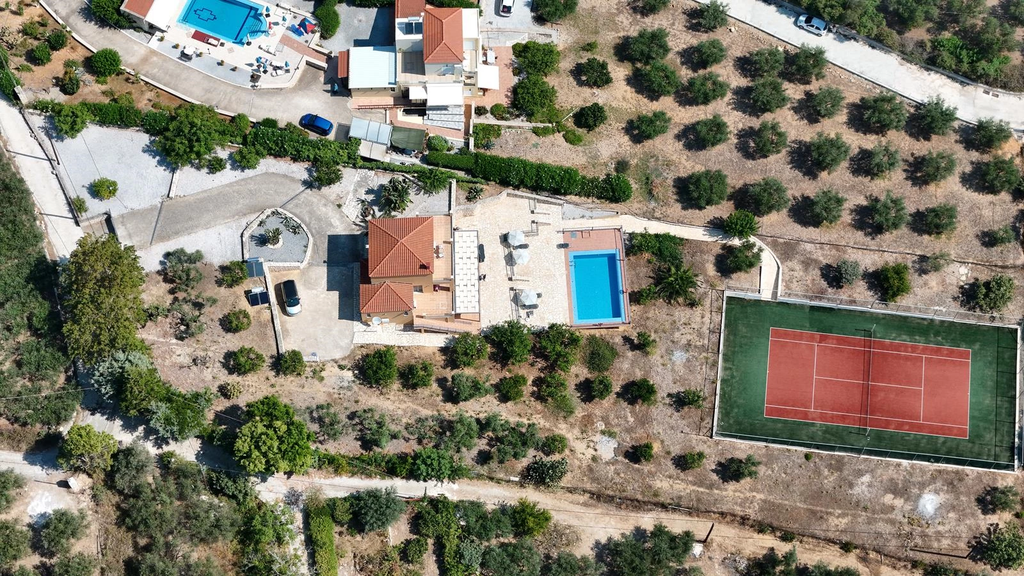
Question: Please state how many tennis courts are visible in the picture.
1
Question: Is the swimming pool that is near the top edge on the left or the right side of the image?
left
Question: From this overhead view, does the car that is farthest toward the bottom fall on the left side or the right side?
left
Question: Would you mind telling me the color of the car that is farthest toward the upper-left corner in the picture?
blue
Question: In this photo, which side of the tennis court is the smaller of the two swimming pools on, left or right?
on the left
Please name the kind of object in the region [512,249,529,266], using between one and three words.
umbrella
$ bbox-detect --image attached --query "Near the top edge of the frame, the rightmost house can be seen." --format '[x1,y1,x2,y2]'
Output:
[338,0,499,130]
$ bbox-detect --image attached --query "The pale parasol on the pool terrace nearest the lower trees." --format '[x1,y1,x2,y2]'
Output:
[519,288,537,306]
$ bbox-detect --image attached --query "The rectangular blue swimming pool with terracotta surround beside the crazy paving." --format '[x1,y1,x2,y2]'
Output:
[563,228,631,333]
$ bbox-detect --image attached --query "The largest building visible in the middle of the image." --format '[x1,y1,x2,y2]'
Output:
[359,215,481,337]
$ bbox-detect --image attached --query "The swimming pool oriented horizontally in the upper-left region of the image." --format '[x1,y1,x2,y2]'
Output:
[150,0,329,87]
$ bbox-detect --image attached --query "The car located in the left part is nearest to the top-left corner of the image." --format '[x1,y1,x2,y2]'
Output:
[300,114,334,136]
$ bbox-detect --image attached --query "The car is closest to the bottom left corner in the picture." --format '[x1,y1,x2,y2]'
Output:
[281,280,303,316]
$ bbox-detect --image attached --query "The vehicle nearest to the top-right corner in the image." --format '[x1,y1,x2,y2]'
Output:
[796,15,829,36]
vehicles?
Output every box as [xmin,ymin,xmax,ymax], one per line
[796,15,829,36]
[500,0,515,17]
[300,114,334,136]
[281,280,303,316]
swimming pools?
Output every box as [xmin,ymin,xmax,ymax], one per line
[150,0,329,87]
[563,228,631,333]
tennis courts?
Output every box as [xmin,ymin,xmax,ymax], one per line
[712,291,1020,472]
